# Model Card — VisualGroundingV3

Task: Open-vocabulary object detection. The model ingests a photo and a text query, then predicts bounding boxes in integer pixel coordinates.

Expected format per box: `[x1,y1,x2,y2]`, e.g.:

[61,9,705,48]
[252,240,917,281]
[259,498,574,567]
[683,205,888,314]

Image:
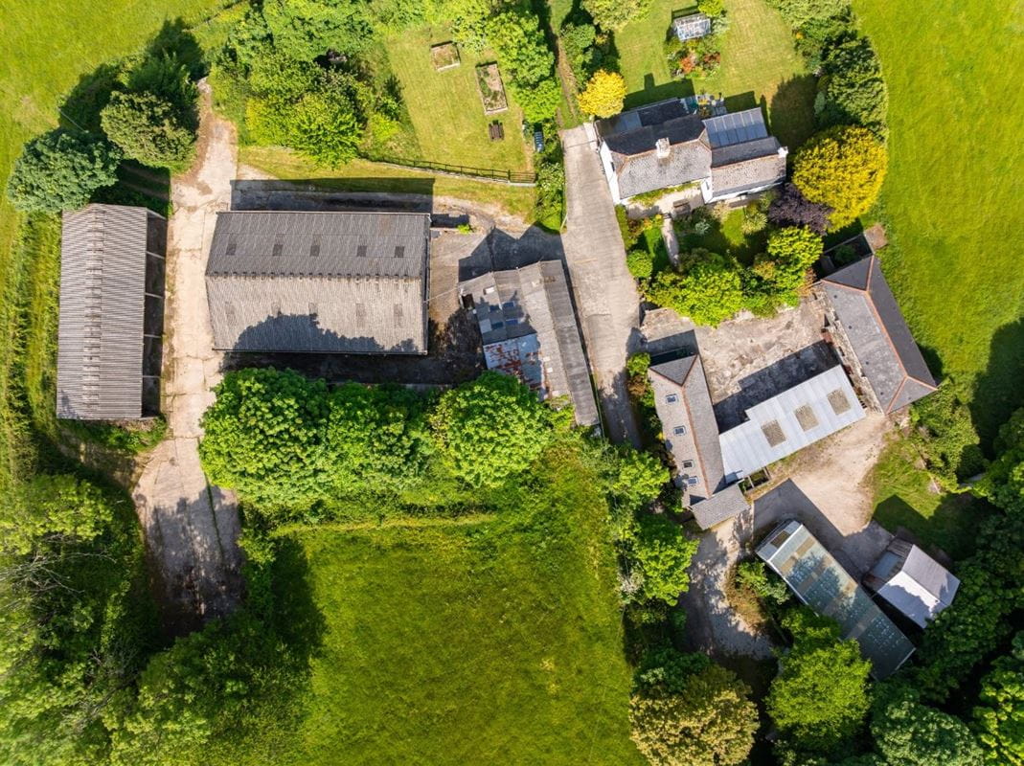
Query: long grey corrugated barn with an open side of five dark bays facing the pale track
[56,204,166,421]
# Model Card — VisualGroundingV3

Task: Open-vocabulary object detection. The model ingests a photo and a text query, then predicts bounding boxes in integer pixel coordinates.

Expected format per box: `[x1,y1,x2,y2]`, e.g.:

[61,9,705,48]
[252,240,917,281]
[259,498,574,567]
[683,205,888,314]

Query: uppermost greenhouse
[671,14,711,47]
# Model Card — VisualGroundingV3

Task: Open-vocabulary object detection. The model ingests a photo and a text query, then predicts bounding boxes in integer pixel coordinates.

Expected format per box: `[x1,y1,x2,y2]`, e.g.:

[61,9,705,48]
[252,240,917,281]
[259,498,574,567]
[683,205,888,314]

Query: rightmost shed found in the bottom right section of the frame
[856,533,958,629]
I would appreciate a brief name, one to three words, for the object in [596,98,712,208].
house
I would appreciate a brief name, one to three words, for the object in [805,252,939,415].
barn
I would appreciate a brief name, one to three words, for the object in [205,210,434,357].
barn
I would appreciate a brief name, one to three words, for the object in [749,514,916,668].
shed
